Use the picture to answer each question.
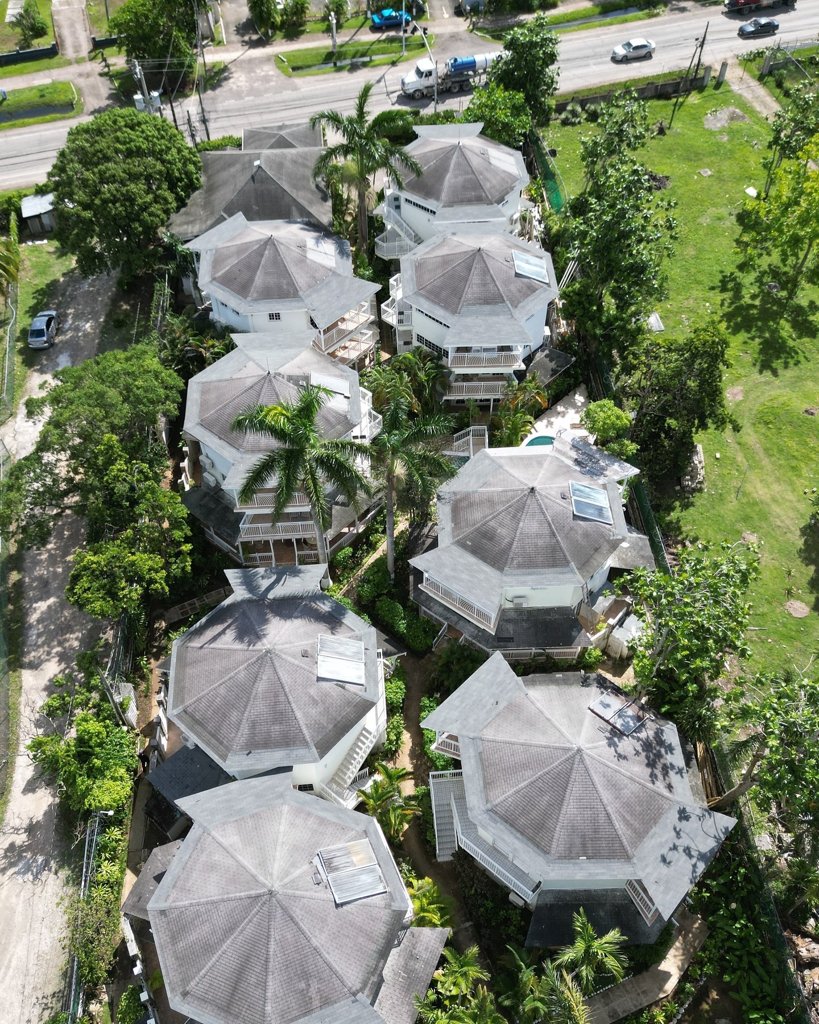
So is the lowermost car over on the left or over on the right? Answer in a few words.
left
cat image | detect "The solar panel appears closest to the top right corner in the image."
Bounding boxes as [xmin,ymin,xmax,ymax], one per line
[511,251,549,285]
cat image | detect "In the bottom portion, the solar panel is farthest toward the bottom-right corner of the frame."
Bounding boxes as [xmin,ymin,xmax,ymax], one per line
[587,689,650,737]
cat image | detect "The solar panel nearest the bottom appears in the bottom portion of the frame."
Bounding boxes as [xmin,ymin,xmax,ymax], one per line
[316,838,389,908]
